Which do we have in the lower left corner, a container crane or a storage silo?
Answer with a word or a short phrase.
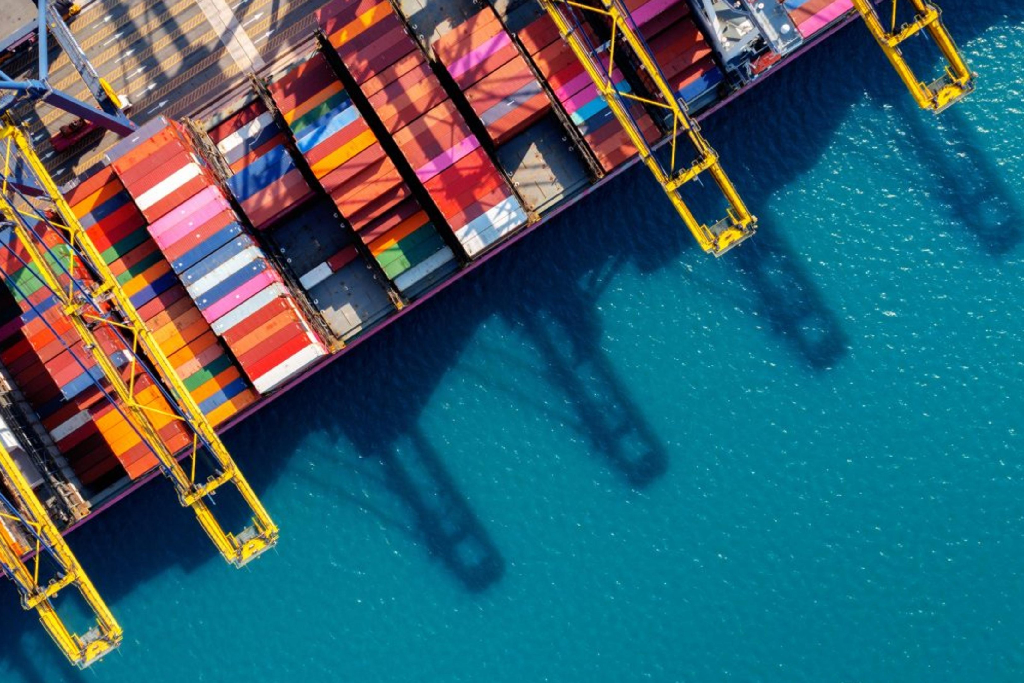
container crane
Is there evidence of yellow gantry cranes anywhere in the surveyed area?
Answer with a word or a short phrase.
Yes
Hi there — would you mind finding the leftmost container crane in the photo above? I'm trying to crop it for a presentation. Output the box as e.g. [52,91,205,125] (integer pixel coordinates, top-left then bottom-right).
[0,448,125,672]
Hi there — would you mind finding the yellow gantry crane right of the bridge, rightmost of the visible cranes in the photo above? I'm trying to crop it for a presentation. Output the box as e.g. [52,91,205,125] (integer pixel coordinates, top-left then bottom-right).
[850,0,974,122]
